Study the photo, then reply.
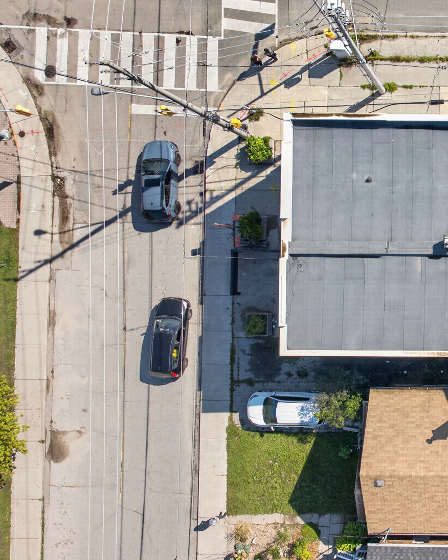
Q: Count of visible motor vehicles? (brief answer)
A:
3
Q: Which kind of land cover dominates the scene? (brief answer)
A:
paved ground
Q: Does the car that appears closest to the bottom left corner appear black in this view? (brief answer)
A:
Yes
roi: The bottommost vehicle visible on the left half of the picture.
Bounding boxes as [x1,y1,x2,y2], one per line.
[144,296,190,380]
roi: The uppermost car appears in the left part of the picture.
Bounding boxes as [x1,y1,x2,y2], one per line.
[135,141,182,224]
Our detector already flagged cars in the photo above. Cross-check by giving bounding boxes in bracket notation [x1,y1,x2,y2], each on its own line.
[247,391,332,432]
[144,296,190,380]
[135,141,182,224]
